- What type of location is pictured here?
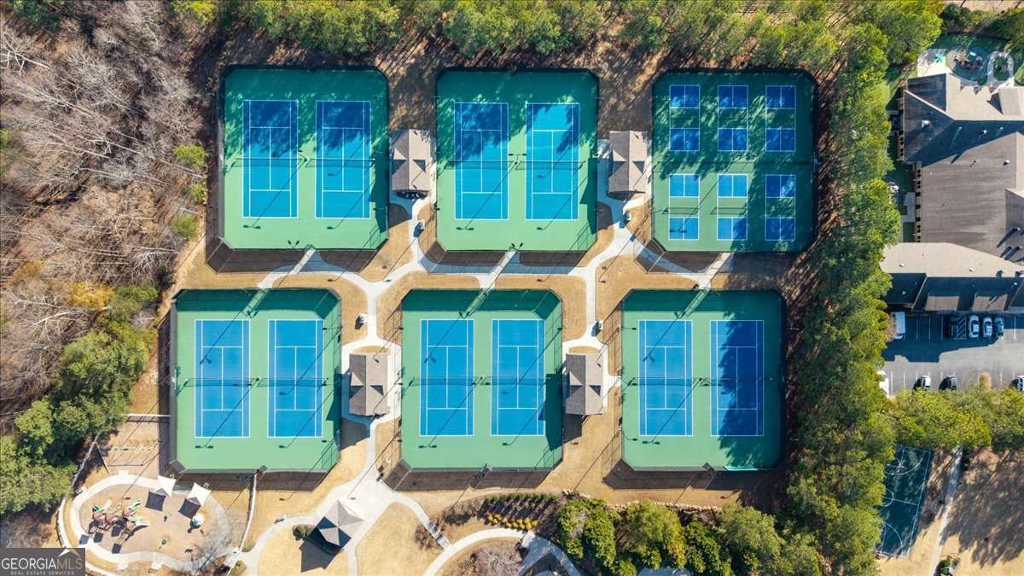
sports ground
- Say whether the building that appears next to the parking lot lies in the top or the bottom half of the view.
top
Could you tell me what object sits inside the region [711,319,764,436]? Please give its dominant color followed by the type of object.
blue tennis court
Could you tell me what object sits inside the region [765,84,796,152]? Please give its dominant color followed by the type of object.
blue sports court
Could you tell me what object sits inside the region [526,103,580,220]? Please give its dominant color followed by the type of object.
blue tennis court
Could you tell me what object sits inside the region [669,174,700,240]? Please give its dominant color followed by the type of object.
blue sports court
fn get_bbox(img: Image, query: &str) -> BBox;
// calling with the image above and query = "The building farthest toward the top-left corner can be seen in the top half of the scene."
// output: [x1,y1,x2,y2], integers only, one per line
[392,127,430,190]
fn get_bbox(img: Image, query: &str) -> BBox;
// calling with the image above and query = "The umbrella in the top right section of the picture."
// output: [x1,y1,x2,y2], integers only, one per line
[936,48,951,65]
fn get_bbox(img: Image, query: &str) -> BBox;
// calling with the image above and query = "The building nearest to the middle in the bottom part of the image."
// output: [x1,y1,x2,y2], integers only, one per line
[565,354,604,417]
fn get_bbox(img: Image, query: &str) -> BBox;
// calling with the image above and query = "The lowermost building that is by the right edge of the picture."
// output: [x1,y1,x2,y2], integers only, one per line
[874,73,1024,312]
